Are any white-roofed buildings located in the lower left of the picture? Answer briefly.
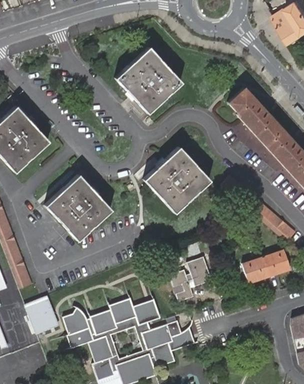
Yes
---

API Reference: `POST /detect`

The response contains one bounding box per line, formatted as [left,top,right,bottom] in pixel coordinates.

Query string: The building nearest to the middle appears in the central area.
[142,148,212,215]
